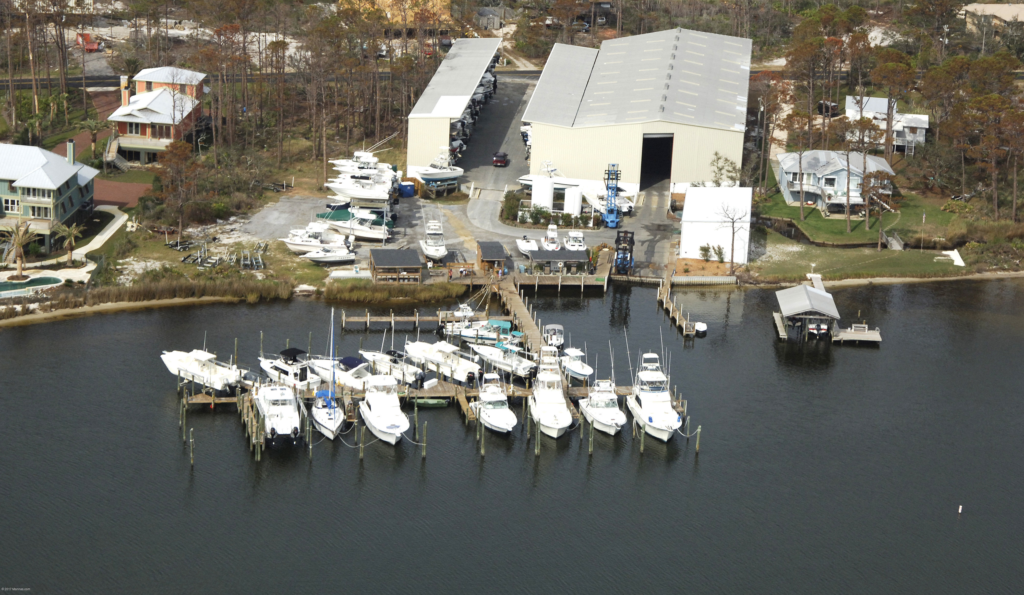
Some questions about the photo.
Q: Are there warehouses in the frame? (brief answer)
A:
Yes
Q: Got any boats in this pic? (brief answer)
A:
Yes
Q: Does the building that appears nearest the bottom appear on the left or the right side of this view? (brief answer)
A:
right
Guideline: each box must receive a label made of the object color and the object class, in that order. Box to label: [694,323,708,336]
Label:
white boat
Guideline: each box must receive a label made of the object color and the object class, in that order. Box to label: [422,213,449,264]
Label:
white boat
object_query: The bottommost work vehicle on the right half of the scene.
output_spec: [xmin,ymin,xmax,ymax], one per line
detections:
[615,229,638,274]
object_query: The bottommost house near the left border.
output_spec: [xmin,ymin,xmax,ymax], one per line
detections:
[0,133,107,269]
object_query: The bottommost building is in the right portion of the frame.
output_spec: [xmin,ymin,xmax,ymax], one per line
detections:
[777,274,885,345]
